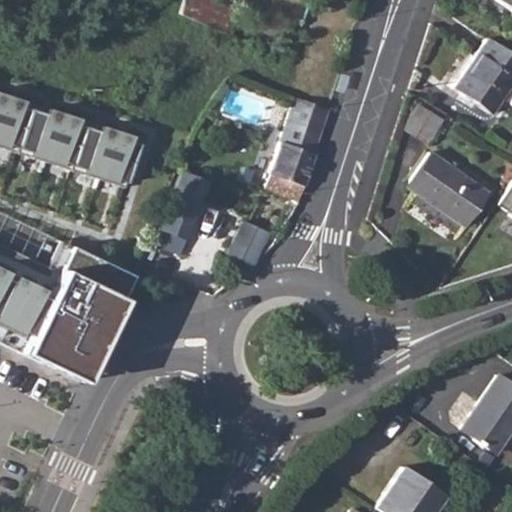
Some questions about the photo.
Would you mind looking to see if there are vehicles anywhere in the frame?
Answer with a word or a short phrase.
Yes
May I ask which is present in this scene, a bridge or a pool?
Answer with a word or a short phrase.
pool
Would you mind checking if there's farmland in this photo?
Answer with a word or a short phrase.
No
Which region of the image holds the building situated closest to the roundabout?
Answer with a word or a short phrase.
center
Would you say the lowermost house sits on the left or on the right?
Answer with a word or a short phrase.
right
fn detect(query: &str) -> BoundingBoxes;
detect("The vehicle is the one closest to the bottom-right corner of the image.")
[458,434,478,452]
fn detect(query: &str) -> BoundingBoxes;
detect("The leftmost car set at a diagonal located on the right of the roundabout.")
[386,414,406,435]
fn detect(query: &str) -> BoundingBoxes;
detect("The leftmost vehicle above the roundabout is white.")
[202,208,218,233]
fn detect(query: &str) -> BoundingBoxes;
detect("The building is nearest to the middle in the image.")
[230,222,268,266]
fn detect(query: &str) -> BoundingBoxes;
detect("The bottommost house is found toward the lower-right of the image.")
[378,466,451,512]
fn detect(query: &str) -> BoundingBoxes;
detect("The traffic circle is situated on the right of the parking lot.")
[206,266,376,438]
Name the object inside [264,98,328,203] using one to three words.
house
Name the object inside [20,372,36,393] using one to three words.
car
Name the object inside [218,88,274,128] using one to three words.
swimming pool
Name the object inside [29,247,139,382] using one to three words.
building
